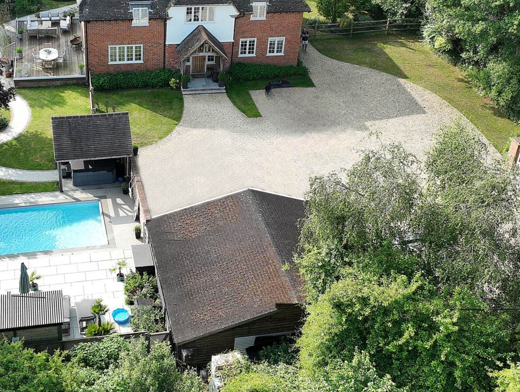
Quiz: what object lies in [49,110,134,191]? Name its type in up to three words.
building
